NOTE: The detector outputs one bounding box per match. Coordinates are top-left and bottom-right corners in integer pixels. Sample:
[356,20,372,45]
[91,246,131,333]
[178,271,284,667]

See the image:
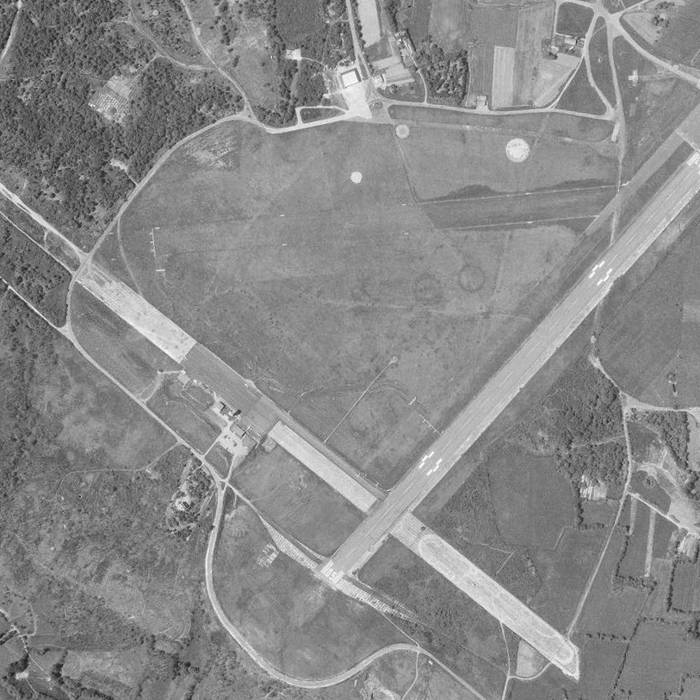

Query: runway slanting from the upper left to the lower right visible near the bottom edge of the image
[389,512,580,680]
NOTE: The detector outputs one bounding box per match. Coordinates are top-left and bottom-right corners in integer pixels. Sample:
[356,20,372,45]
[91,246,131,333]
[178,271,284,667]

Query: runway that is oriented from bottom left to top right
[322,151,700,583]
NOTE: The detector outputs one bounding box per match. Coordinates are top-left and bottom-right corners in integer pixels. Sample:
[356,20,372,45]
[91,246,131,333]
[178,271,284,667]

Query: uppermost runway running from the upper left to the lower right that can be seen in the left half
[77,262,196,363]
